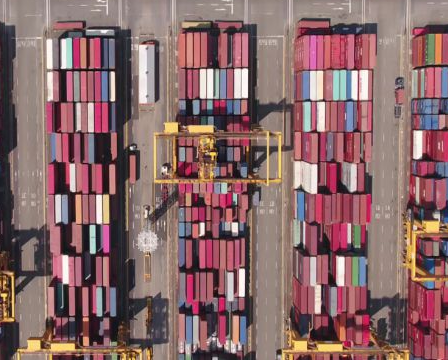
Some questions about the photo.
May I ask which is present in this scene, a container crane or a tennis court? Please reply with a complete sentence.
This aerial view contains a container crane.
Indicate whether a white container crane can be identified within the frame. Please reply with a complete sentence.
No, I can't see a single white container crane in this photo.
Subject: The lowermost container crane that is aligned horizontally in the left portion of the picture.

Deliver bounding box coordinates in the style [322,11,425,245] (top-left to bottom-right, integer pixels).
[19,318,142,360]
